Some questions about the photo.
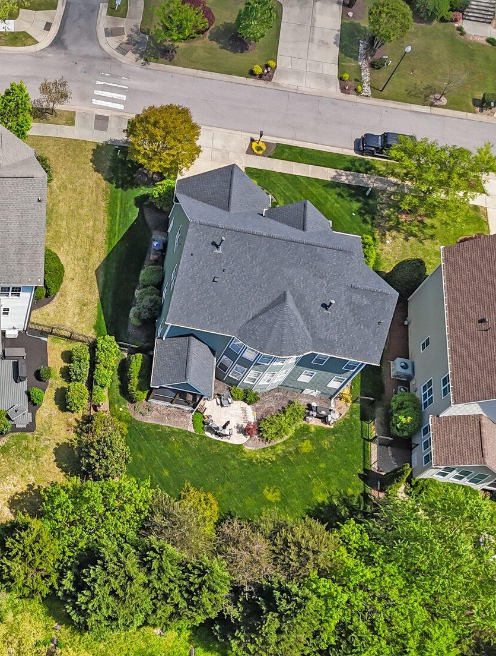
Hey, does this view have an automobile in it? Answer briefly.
Yes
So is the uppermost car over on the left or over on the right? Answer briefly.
right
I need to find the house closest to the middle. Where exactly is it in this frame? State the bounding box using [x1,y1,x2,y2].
[146,162,396,410]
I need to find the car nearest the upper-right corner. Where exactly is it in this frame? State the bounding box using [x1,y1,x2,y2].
[357,132,419,164]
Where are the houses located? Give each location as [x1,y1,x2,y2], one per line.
[407,234,496,496]
[146,162,396,410]
[0,122,45,355]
